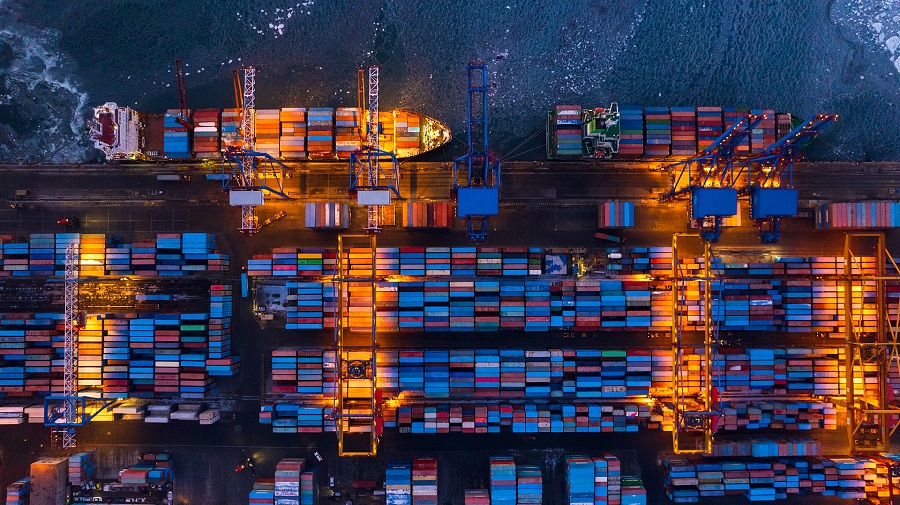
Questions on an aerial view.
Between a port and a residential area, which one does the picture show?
port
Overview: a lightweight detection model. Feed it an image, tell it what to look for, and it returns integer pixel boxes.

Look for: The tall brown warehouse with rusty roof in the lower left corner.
[28,458,70,505]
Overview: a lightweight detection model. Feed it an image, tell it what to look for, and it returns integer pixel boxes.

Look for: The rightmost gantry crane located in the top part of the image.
[713,121,840,248]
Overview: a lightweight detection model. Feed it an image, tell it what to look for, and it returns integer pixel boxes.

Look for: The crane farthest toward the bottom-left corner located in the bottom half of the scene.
[41,244,123,448]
